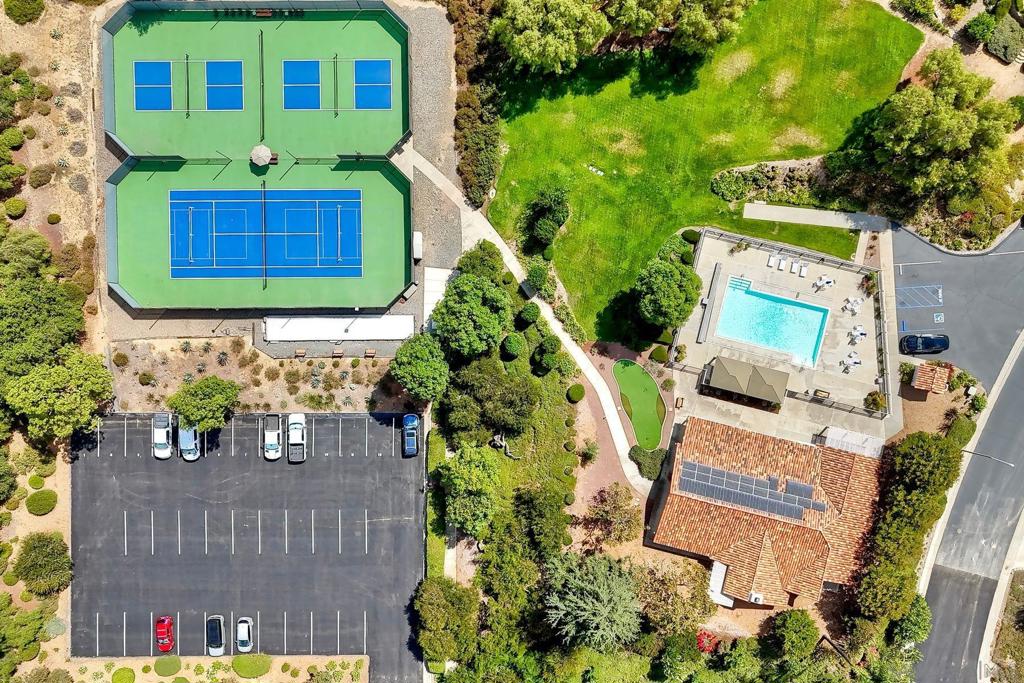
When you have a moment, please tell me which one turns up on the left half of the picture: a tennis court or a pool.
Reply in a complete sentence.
Visible on the left half of the picture is a tennis court.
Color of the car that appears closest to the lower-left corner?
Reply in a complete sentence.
The car that appears closest to the lower-left corner looks red in the image.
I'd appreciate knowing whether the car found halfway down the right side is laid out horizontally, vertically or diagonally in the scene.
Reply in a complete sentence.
The car found halfway down the right side has been laid out horizontally relative to the frame.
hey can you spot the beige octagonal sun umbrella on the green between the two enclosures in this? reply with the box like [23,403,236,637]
[250,145,271,166]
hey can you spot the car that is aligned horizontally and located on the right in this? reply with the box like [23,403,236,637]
[898,334,946,354]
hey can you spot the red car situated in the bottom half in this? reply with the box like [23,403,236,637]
[156,613,177,650]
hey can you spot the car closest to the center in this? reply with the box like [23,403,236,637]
[402,415,421,457]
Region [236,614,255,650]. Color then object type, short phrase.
white car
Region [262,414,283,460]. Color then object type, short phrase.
white truck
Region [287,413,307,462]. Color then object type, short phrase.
white vehicle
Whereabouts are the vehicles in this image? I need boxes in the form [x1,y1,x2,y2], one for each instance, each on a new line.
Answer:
[206,612,228,654]
[178,424,199,460]
[236,614,255,650]
[262,414,283,460]
[151,413,173,459]
[156,613,177,650]
[287,413,307,462]
[898,334,946,354]
[402,415,421,457]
